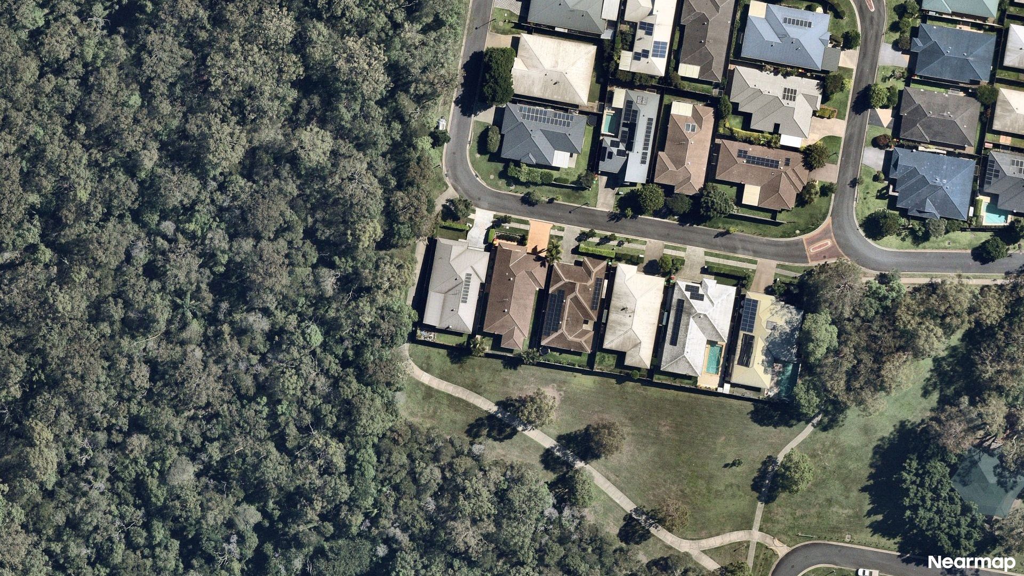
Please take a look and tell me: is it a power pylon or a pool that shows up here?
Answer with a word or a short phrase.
pool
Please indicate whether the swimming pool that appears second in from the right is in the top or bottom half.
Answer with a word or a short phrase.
bottom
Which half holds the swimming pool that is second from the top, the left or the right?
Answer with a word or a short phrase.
right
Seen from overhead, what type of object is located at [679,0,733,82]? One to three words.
house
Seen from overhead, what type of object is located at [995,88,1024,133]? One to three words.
house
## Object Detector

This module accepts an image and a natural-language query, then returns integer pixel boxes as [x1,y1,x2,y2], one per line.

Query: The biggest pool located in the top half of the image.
[980,195,1012,226]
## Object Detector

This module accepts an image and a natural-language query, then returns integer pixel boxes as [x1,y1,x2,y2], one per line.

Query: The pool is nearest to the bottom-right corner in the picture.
[776,362,801,398]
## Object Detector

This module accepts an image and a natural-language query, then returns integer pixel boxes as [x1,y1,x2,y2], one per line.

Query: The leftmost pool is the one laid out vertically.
[600,110,616,136]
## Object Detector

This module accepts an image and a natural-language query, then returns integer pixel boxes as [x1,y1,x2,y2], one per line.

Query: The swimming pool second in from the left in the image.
[705,342,723,376]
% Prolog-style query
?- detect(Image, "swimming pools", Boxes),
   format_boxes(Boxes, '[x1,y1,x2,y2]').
[705,342,723,376]
[980,195,1012,226]
[776,362,801,398]
[600,110,616,136]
